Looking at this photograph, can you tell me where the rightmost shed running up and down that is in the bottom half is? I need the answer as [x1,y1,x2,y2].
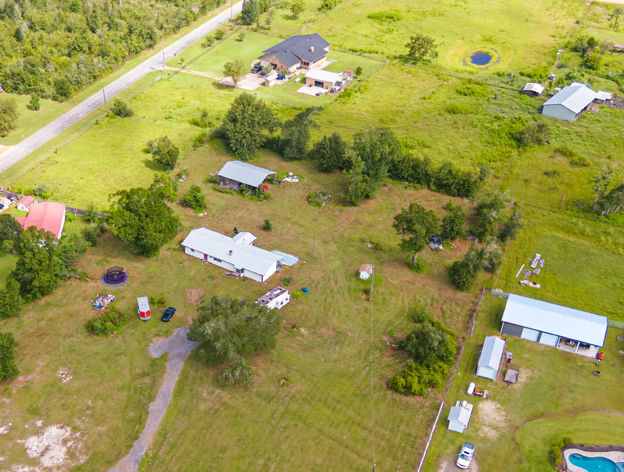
[477,335,503,379]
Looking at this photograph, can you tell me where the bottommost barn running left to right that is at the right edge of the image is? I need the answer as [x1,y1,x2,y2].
[500,294,607,360]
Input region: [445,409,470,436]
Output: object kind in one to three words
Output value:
shed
